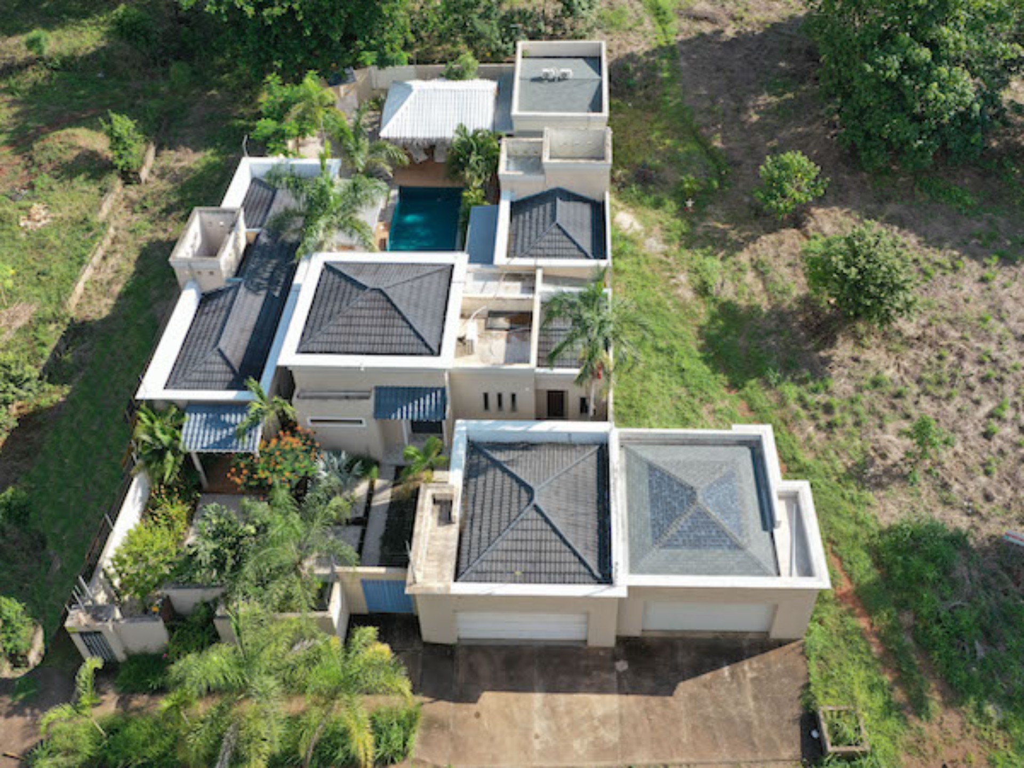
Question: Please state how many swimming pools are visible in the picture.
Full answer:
Just 1 swimming pool appears in this view.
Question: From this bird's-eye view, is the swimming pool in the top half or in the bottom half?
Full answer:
The swimming pool is in the top half of the image.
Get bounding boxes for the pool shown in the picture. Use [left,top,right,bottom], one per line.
[380,184,466,253]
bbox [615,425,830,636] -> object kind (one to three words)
building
